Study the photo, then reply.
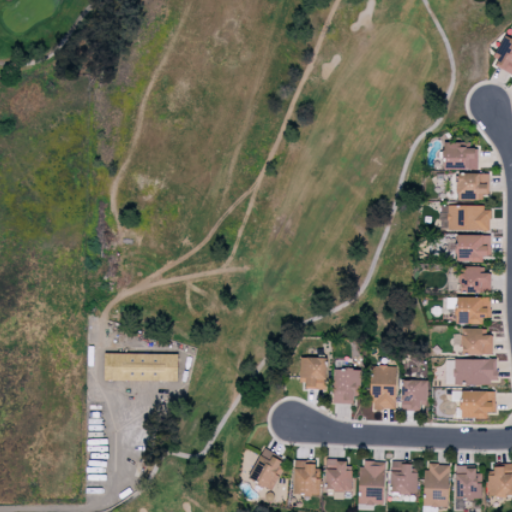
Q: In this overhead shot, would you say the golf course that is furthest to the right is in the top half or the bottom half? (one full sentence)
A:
It is in the top half that the golf course that is furthest to the right appears.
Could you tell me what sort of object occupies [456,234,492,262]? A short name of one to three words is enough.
house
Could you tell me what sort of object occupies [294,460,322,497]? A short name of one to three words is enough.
house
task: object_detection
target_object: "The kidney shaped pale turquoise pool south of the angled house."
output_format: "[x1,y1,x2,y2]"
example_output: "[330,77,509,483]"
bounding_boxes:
[241,483,259,501]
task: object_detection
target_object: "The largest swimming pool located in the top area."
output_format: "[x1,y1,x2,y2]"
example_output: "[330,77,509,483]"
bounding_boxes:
[428,140,442,167]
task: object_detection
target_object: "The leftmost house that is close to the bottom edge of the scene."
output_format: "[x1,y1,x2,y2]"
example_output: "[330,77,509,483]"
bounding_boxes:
[249,448,284,492]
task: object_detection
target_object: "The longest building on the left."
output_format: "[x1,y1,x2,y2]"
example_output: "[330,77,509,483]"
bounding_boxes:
[104,354,178,382]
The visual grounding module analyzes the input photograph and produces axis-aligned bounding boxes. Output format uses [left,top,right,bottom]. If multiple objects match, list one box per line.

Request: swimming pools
[241,483,259,501]
[428,140,442,167]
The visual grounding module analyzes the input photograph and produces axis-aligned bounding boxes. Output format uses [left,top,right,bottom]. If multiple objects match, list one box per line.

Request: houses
[372,366,398,410]
[358,460,386,511]
[423,464,451,512]
[444,142,479,170]
[462,329,494,354]
[441,206,492,232]
[456,465,483,510]
[494,36,512,74]
[488,464,512,497]
[453,391,498,419]
[333,368,362,404]
[446,358,500,386]
[446,297,492,324]
[391,461,419,502]
[402,380,429,410]
[249,448,284,492]
[325,459,353,500]
[294,460,322,497]
[300,354,328,392]
[458,172,490,200]
[456,234,492,262]
[460,266,492,294]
